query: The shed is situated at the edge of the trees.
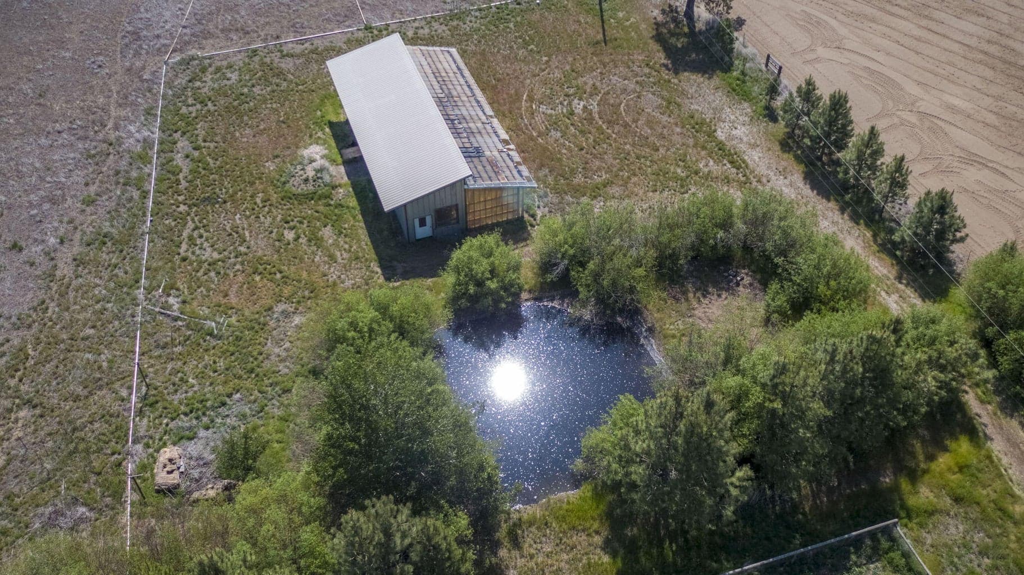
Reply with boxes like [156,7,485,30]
[328,32,537,243]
